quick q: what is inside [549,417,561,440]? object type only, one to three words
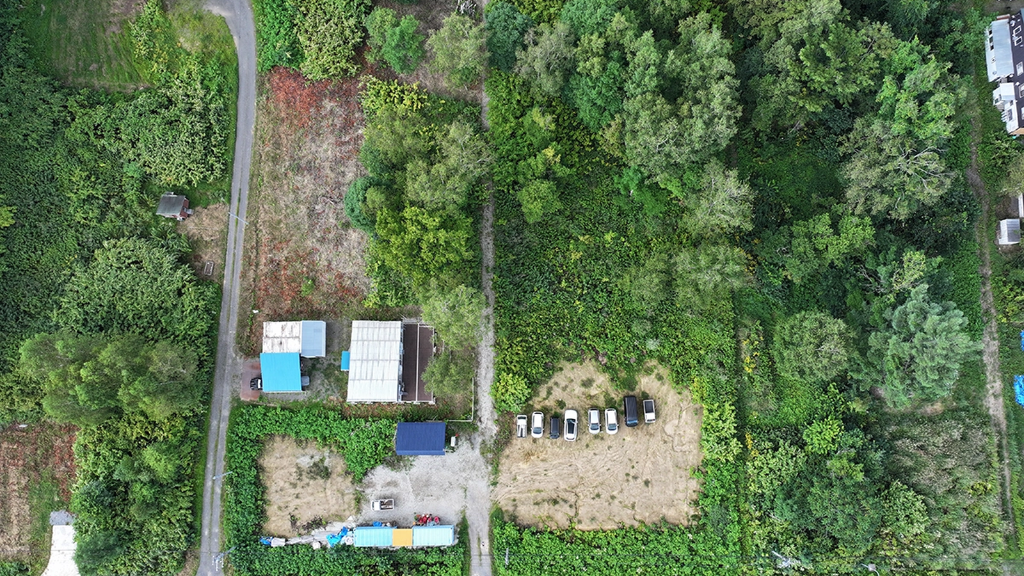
vehicle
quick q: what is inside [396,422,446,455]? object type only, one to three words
shed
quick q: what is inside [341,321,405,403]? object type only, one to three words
barn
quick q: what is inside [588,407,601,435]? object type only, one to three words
vehicle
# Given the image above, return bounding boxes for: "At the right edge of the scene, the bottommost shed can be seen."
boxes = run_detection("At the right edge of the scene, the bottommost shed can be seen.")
[991,219,1020,246]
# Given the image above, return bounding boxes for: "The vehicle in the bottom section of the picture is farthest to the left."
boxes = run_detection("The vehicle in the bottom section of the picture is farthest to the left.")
[248,376,263,390]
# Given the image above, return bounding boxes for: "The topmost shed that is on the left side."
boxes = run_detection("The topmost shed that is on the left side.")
[156,190,198,218]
